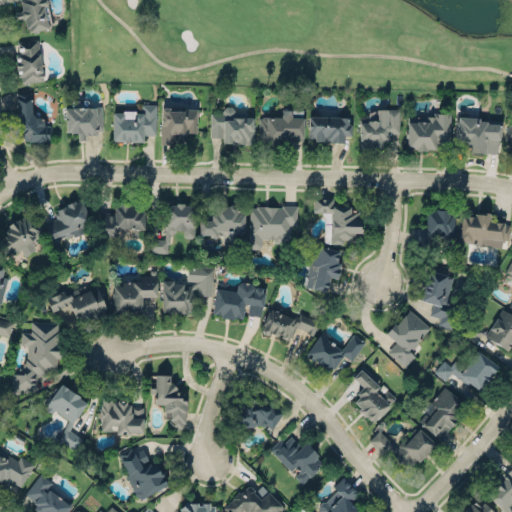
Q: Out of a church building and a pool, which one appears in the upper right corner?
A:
pool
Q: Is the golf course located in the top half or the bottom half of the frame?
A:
top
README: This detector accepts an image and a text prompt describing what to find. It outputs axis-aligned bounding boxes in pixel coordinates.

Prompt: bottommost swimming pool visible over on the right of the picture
[318,481,336,500]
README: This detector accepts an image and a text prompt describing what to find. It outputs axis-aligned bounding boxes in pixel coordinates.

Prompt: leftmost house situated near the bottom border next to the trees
[0,452,36,488]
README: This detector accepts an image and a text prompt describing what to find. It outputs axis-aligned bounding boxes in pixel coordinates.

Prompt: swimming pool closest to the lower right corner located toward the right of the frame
[385,422,412,444]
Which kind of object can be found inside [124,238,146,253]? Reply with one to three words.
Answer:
swimming pool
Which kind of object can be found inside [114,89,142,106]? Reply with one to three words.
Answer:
swimming pool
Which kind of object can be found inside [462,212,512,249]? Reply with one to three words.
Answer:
house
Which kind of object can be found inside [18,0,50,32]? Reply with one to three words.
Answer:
house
